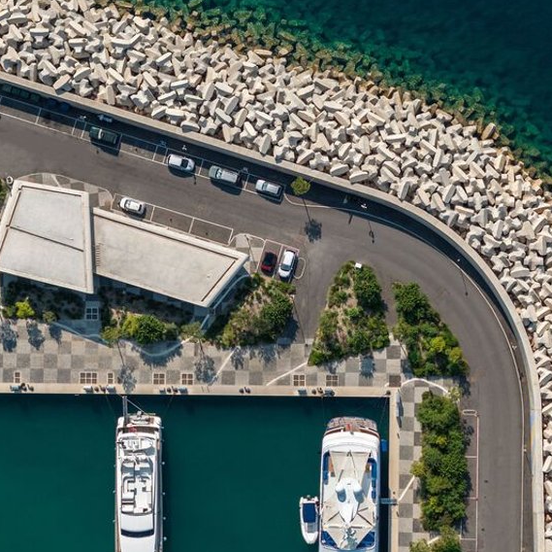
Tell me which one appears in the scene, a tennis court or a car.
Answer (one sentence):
Of the two, only a car appears.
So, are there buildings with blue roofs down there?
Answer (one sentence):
No, there is no building with a blue roof in the image.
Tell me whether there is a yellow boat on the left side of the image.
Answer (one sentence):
No, I can find no yellow boat on the left side of the image.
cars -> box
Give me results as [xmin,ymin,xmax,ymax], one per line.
[165,153,194,171]
[117,198,146,214]
[87,126,119,145]
[208,164,239,183]
[254,178,283,195]
[279,248,296,279]
[261,250,277,274]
